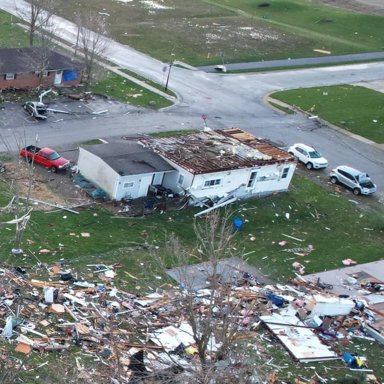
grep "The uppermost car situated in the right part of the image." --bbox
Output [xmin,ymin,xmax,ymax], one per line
[284,140,333,167]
